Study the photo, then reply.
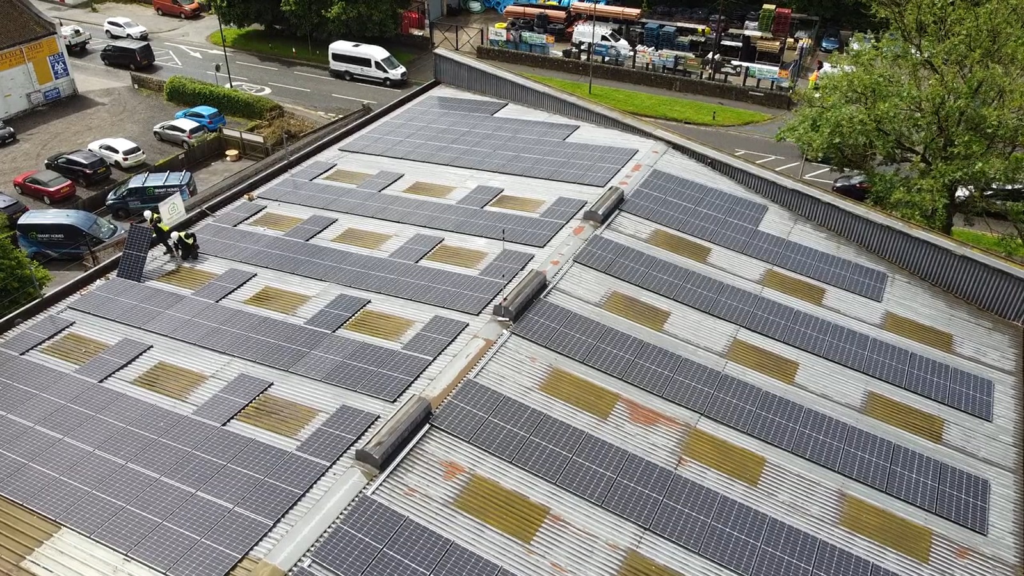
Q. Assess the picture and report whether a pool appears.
No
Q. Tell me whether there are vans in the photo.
Yes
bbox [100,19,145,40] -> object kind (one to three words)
car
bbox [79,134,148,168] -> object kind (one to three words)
car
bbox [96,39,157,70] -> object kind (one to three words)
van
